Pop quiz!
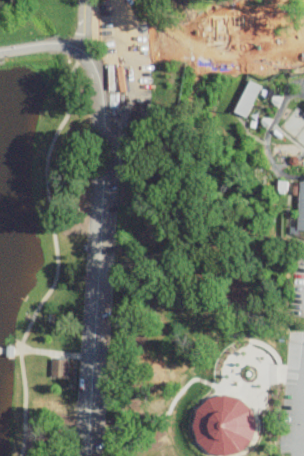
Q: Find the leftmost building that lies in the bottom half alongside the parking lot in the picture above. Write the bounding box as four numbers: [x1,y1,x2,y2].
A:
[193,395,260,456]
